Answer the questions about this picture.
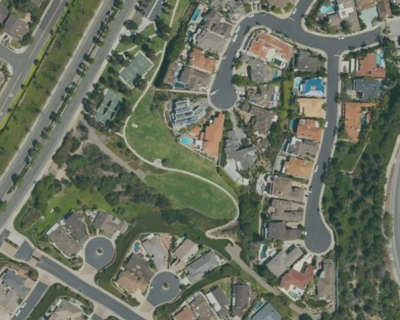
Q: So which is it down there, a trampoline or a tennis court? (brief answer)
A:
tennis court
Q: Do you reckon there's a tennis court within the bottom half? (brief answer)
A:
No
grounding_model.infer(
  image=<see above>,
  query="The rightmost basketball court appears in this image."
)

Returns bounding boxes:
[118,50,154,89]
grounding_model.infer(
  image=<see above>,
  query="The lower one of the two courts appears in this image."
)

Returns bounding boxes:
[93,84,122,121]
